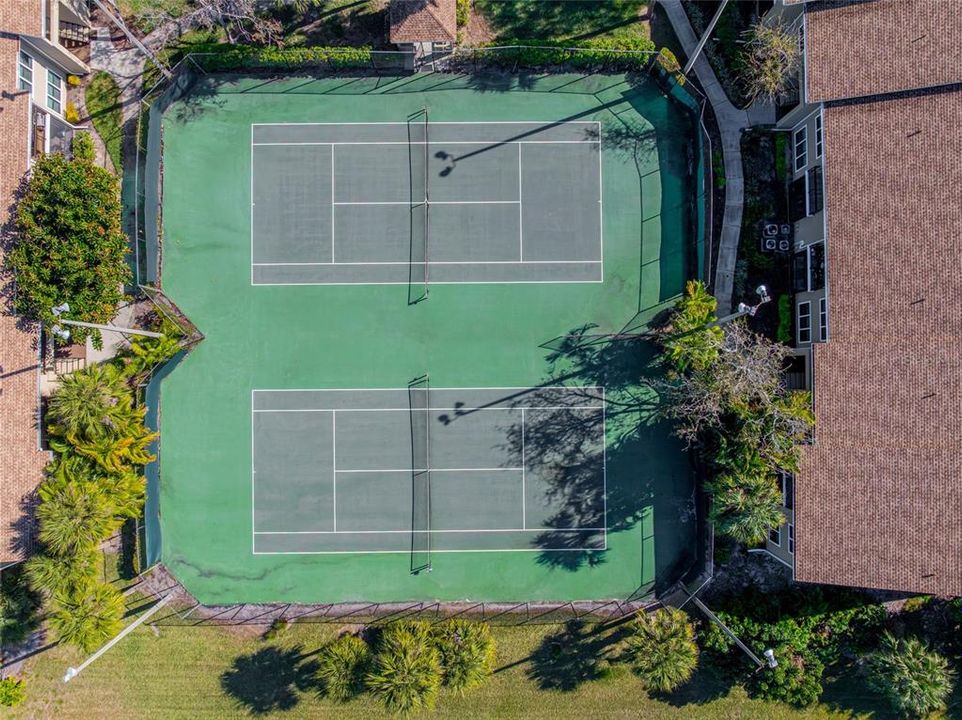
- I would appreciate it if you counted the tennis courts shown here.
2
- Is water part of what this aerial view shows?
No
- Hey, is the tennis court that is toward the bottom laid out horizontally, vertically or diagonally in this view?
horizontally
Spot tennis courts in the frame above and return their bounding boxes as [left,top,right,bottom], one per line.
[252,122,602,285]
[253,387,606,554]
